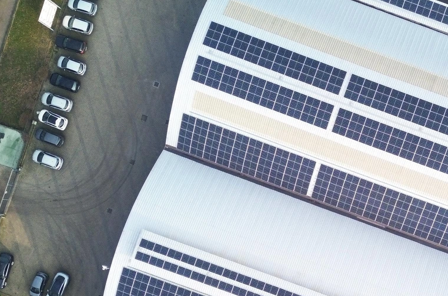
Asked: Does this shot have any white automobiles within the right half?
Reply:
No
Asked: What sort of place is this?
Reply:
industrial area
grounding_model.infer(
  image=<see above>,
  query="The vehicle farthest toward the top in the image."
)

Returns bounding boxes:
[67,0,99,17]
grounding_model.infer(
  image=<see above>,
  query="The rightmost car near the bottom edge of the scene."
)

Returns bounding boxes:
[46,271,71,296]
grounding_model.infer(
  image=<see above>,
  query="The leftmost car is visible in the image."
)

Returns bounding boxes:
[0,252,15,289]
